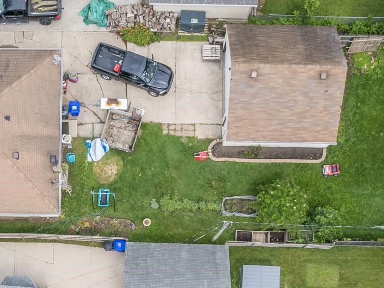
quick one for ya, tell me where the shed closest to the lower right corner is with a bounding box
[238,265,280,288]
